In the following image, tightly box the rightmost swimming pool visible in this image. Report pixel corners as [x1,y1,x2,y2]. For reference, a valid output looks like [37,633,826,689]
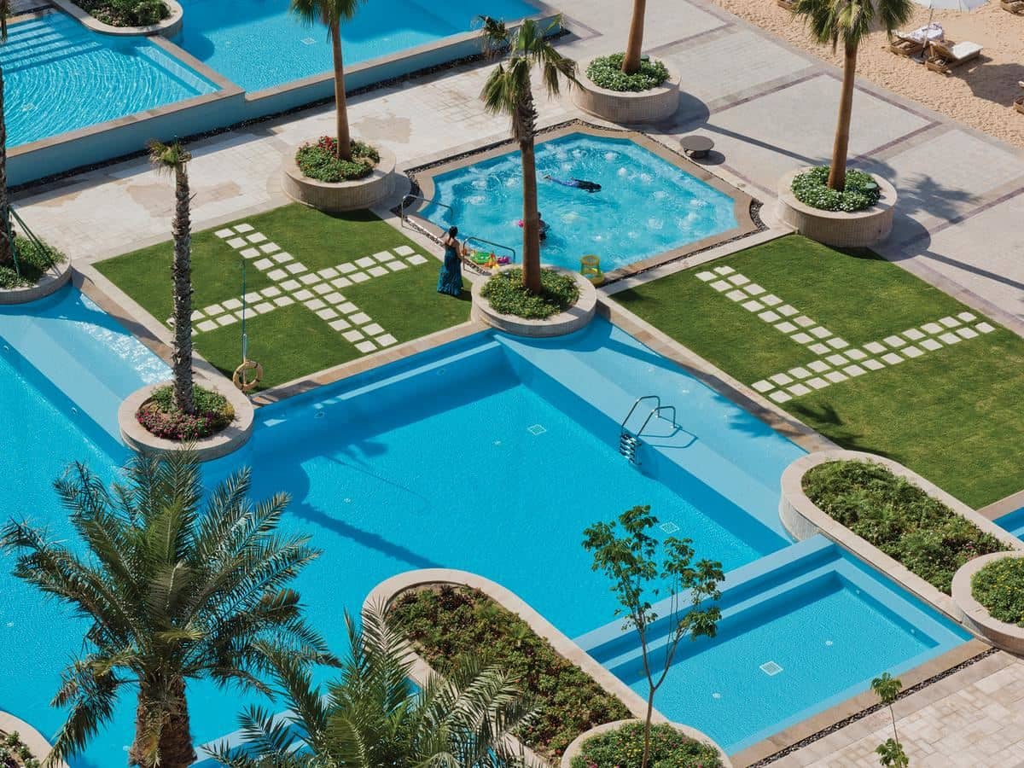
[1002,518,1024,542]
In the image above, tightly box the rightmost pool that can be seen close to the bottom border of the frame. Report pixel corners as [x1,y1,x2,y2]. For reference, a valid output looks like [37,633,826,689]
[600,548,967,756]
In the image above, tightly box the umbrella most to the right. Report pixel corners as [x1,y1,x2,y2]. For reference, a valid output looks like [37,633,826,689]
[905,0,1009,64]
